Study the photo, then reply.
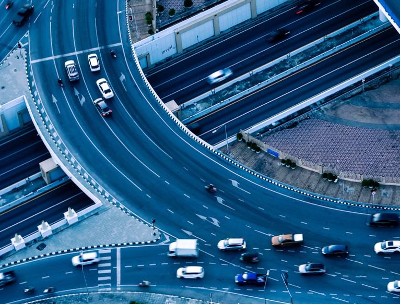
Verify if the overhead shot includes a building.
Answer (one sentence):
No, no building is visible in the view.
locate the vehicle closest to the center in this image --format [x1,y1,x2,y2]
[189,120,205,133]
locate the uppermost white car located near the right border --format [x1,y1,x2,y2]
[373,240,400,254]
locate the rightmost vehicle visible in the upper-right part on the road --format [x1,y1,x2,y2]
[296,0,320,14]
